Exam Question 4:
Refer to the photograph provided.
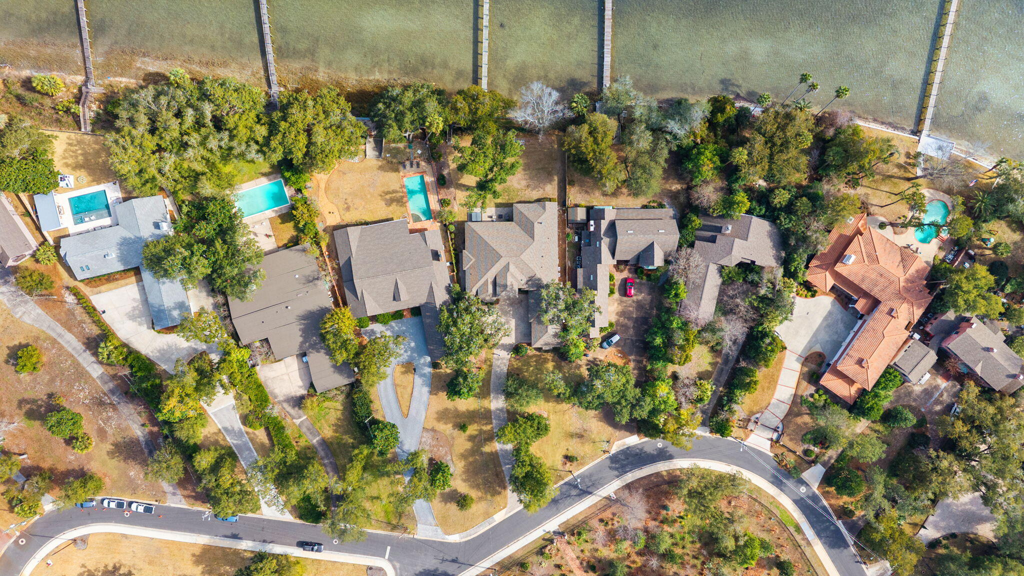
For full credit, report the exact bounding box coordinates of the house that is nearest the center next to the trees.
[463,202,566,350]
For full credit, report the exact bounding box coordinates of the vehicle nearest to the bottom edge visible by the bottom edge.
[301,541,324,554]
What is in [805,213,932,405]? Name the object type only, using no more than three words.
house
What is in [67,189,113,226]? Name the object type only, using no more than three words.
swimming pool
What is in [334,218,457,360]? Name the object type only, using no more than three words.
house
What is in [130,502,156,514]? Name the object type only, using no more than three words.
vehicle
